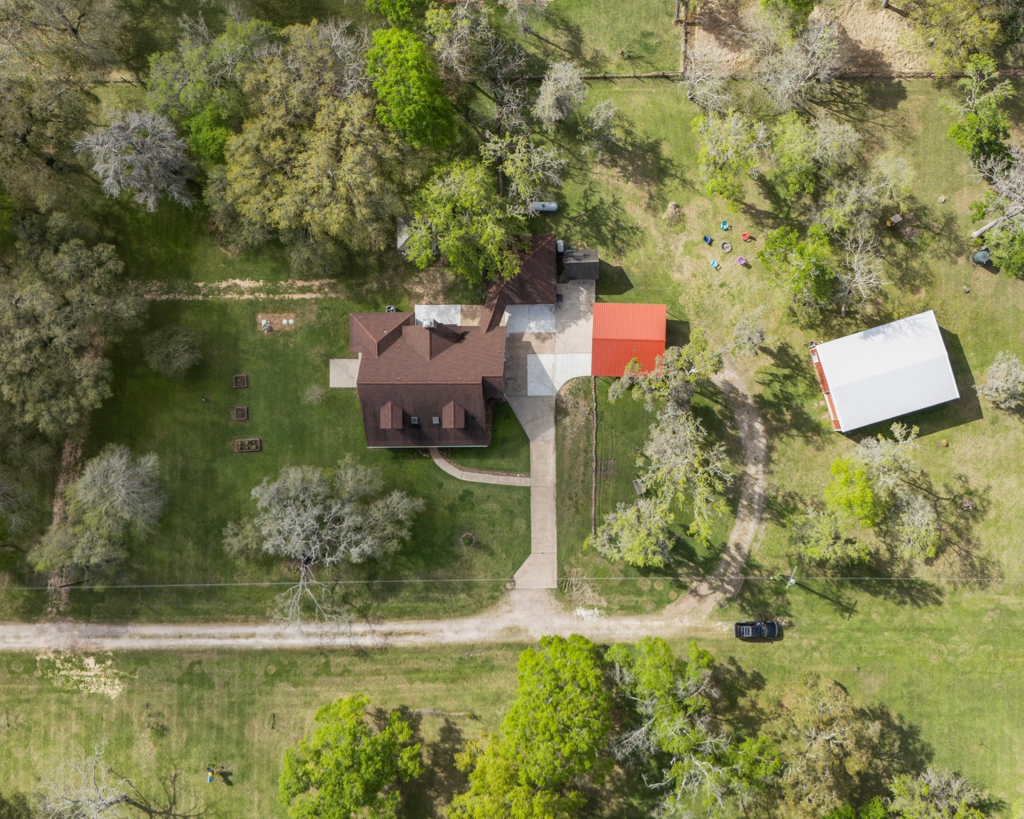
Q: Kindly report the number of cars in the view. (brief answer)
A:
1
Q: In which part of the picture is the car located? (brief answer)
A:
bottom right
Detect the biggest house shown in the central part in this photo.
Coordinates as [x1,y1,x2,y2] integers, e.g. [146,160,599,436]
[350,234,556,448]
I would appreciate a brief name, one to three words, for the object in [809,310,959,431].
barn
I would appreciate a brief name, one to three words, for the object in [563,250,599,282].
shed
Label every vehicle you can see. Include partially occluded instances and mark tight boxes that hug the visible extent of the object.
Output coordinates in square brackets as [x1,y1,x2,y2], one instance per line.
[733,613,778,640]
